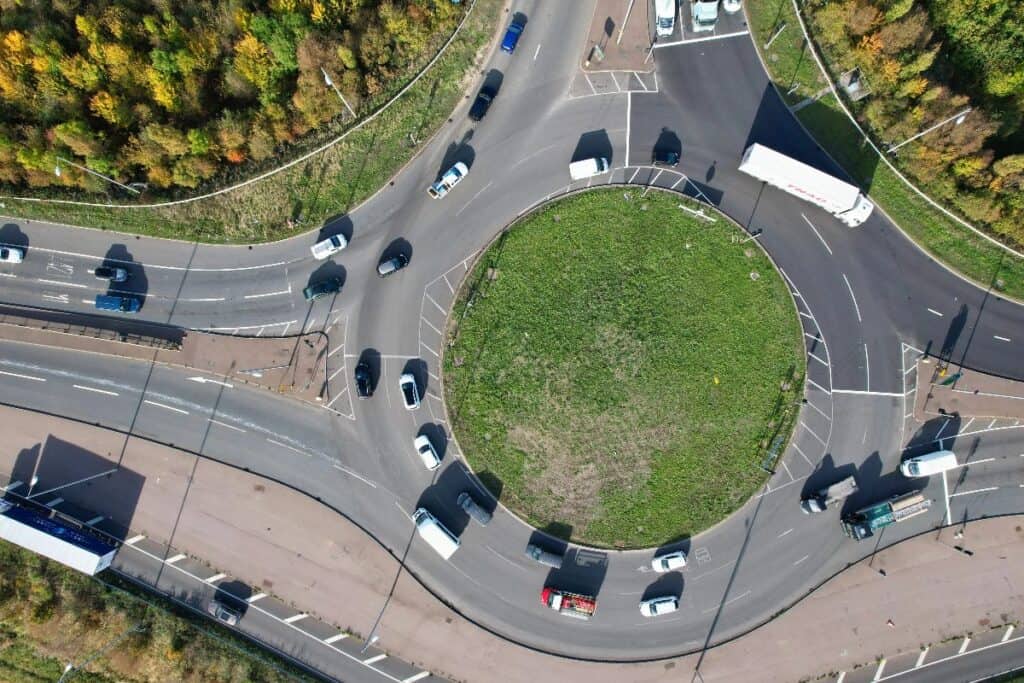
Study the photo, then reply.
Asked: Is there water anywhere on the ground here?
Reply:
No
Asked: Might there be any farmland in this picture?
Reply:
No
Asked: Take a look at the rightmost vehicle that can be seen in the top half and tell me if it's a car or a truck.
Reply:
truck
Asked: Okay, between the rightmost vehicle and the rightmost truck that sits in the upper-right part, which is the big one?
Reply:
the truck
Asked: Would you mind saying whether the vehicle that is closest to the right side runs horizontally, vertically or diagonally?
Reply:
horizontally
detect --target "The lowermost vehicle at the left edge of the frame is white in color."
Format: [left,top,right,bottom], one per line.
[0,498,119,576]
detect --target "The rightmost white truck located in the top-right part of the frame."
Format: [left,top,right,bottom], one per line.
[736,143,871,228]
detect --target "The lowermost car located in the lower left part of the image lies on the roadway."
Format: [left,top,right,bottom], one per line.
[209,599,243,626]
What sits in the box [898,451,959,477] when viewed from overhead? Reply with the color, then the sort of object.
white vehicle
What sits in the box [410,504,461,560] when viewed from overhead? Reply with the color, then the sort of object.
white truck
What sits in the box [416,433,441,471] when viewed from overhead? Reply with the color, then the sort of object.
white car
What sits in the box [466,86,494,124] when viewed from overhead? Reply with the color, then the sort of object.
black car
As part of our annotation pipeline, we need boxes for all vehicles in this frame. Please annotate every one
[898,451,959,477]
[525,542,564,569]
[640,594,679,616]
[798,475,857,516]
[654,0,676,36]
[723,0,741,14]
[0,246,25,264]
[95,294,142,313]
[652,551,686,572]
[376,253,409,278]
[736,143,871,228]
[304,281,343,302]
[354,361,373,399]
[428,163,471,200]
[466,86,494,124]
[400,372,421,410]
[416,433,441,471]
[838,491,922,539]
[410,504,461,560]
[458,492,493,525]
[501,22,523,55]
[541,588,597,620]
[95,266,130,283]
[568,156,610,182]
[308,234,350,261]
[209,599,243,626]
[649,151,682,170]
[0,498,119,576]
